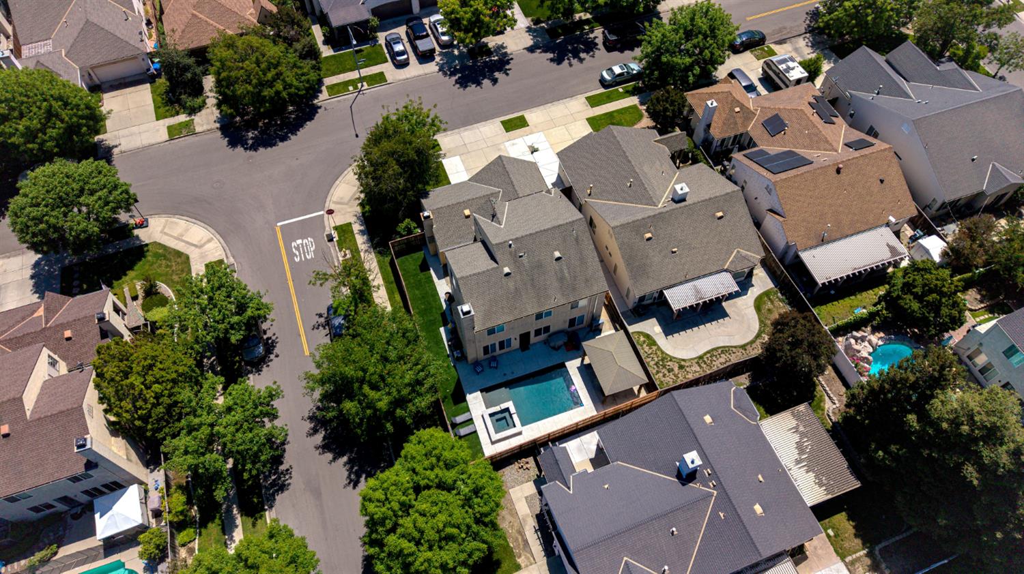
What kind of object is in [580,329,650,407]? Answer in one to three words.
gazebo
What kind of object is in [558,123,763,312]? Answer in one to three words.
house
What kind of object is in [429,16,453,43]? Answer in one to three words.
car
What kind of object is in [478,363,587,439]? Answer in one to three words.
swimming pool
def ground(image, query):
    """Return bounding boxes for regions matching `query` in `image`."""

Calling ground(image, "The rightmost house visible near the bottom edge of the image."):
[534,382,828,574]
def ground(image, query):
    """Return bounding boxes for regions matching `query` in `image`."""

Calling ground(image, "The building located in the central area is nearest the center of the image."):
[421,155,614,364]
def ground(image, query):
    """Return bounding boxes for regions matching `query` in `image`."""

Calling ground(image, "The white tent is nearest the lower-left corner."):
[94,484,157,547]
